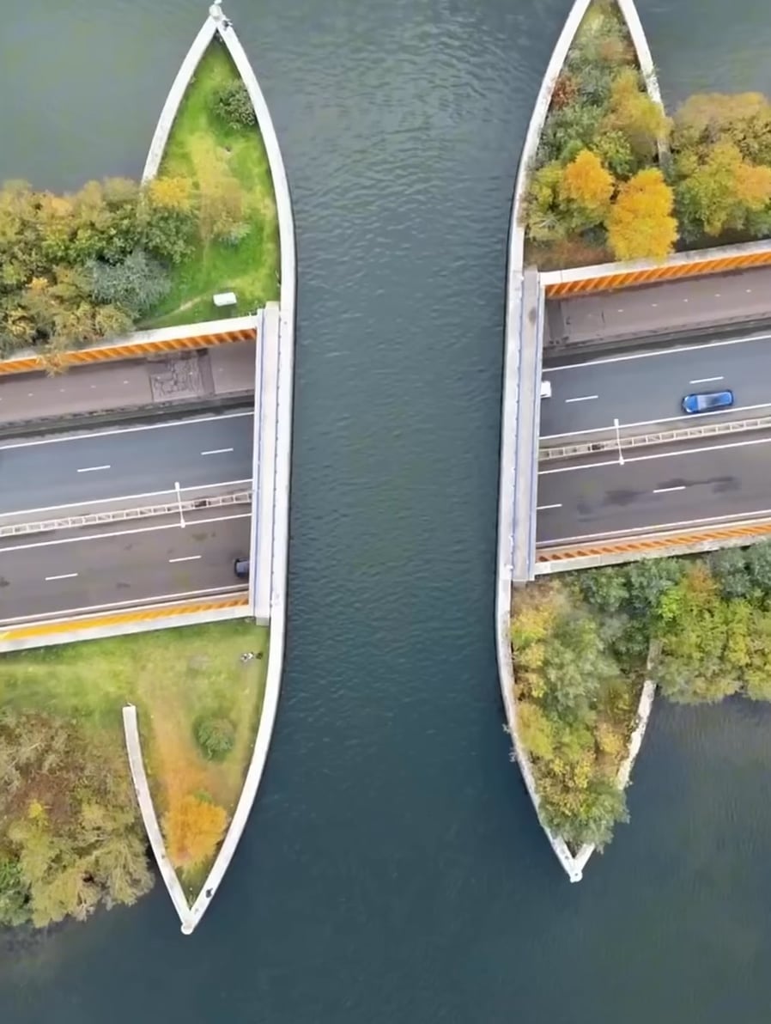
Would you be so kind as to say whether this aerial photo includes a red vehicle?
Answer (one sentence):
No, this view has no red vehicle in it.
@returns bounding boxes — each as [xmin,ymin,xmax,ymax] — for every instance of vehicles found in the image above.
[682,389,733,414]
[235,558,251,578]
[541,379,551,400]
